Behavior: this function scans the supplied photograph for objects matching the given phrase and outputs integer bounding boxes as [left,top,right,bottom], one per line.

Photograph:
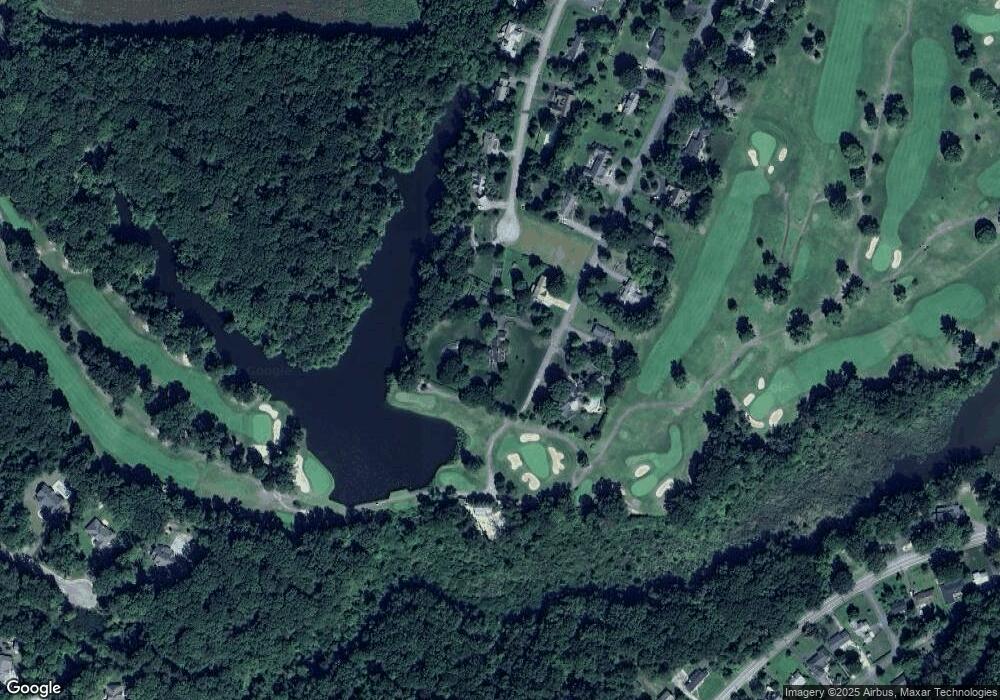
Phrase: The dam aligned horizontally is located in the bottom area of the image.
[353,487,435,519]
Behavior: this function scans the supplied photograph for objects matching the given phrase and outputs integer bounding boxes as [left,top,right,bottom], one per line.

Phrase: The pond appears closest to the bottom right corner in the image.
[893,370,1000,478]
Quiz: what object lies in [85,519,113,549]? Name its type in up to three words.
house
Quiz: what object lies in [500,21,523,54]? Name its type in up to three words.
house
